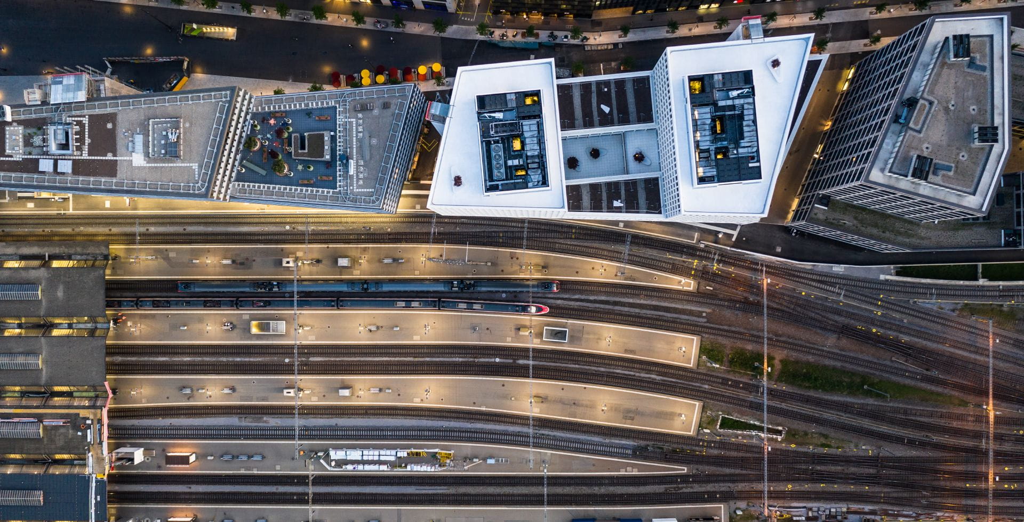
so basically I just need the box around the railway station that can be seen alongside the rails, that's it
[0,242,110,522]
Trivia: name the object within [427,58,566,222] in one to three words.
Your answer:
building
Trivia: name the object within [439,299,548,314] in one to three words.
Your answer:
rail car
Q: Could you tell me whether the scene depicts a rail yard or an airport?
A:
rail yard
